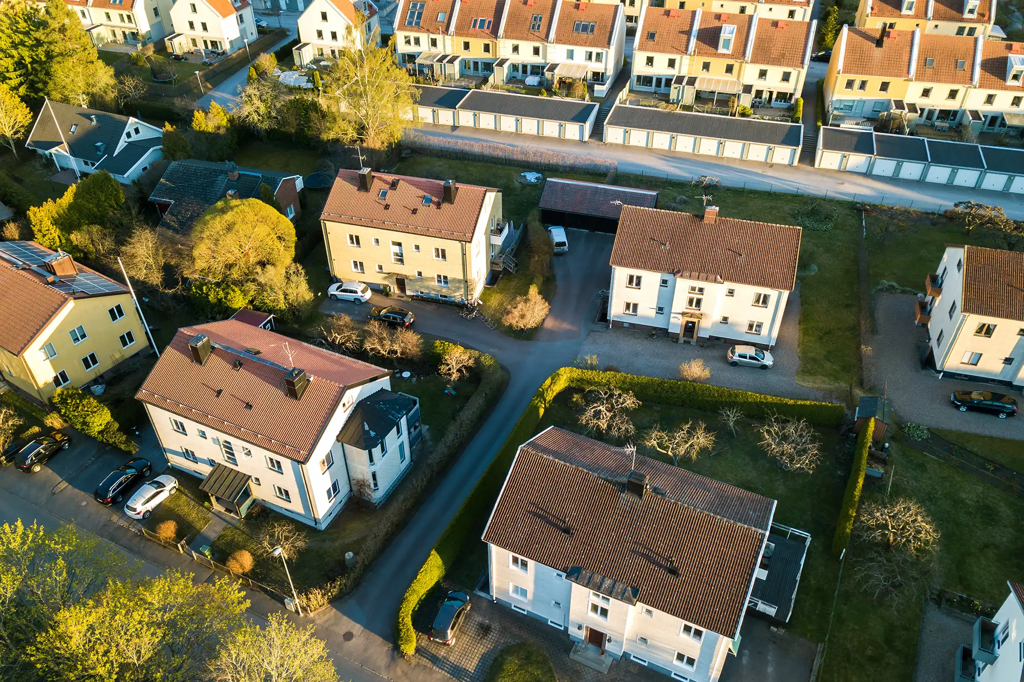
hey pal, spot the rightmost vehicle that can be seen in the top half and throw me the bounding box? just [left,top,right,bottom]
[816,48,835,62]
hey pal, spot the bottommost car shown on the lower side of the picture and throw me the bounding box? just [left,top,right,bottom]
[428,591,474,651]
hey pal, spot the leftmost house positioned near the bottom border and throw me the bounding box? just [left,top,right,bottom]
[471,426,777,682]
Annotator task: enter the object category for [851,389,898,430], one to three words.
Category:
shed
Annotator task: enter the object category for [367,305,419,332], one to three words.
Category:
car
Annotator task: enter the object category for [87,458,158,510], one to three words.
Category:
car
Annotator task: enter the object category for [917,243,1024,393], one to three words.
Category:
house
